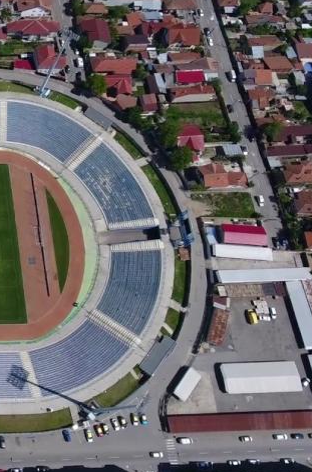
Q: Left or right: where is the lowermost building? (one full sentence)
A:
The lowermost building is on the right side of the image.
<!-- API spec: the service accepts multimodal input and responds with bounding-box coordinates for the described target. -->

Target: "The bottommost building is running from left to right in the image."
[164,411,312,433]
